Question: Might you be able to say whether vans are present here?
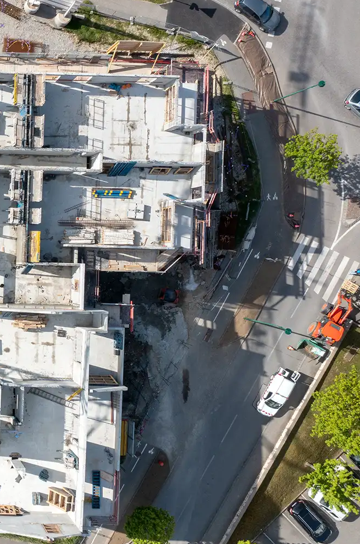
Yes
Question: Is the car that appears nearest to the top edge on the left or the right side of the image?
right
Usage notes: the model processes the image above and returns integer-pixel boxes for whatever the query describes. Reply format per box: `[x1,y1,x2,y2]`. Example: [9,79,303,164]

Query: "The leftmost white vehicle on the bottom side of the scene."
[256,366,306,418]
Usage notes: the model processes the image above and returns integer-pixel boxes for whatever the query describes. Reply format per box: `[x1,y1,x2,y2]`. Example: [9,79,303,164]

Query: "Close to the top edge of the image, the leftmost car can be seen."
[237,0,284,32]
